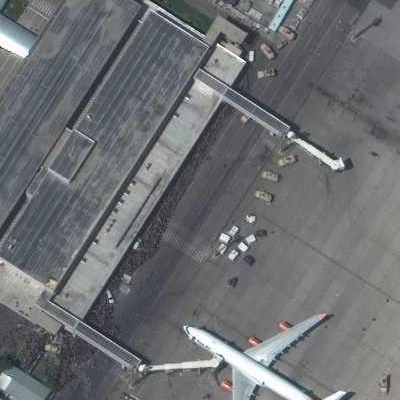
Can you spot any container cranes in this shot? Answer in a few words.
No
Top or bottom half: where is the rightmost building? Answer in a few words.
top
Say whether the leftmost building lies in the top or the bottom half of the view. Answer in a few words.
bottom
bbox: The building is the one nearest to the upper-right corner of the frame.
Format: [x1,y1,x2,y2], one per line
[269,0,295,33]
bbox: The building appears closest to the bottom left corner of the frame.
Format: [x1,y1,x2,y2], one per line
[0,367,52,400]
